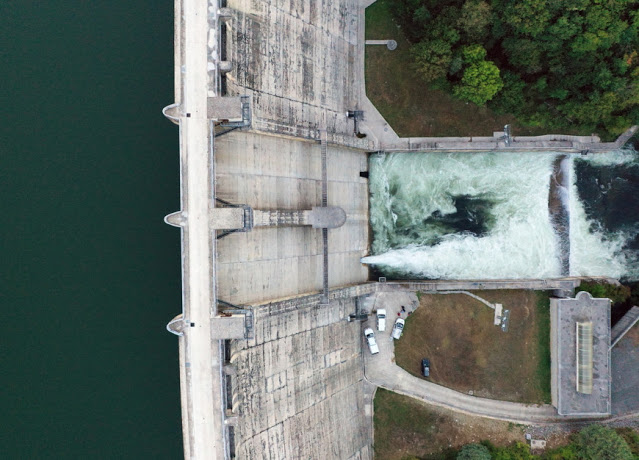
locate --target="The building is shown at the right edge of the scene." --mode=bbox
[550,289,610,414]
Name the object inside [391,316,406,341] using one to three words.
vehicle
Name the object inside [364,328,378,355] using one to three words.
vehicle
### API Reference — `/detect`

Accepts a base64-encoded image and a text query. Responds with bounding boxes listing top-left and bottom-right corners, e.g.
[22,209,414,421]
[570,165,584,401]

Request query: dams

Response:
[162,0,370,460]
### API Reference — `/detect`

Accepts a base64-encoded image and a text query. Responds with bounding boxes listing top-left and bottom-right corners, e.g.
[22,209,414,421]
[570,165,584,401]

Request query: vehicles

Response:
[364,328,378,355]
[421,356,432,378]
[391,316,406,341]
[376,308,387,331]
